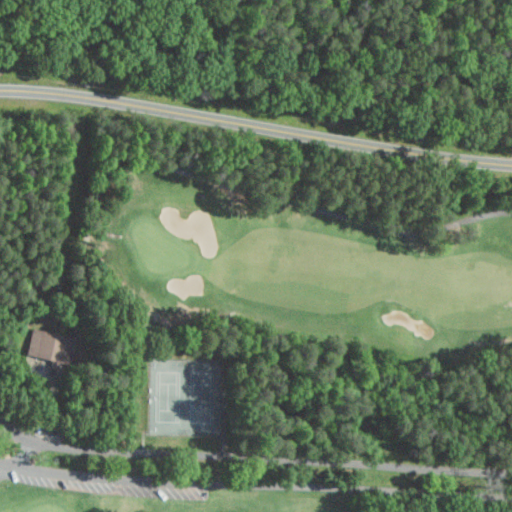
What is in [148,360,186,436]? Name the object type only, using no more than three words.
tennis court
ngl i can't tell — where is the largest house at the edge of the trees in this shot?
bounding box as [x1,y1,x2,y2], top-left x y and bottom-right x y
[27,330,64,362]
